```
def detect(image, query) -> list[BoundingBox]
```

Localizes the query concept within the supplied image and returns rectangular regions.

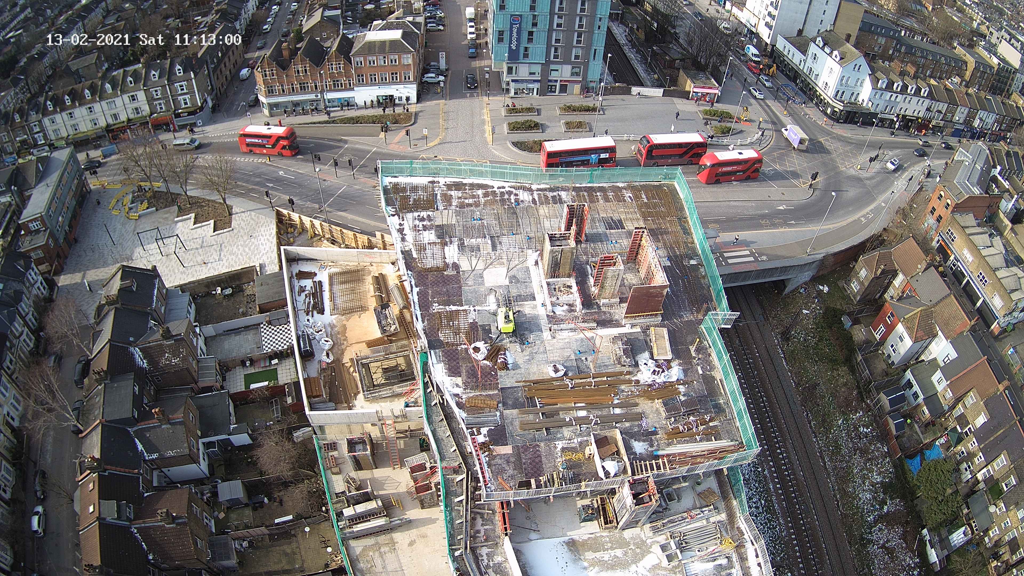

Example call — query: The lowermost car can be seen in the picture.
[25,505,48,536]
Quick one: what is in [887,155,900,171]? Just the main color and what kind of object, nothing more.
white vehicle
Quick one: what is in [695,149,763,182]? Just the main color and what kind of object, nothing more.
red bus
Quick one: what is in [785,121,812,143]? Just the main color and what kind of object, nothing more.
white truck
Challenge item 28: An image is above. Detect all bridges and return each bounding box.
[719,257,824,294]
